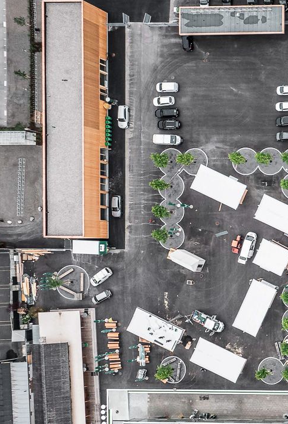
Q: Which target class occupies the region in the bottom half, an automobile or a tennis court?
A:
automobile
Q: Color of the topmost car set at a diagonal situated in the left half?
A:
white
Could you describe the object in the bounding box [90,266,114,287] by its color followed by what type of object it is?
white car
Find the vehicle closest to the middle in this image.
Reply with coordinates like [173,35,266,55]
[110,193,123,217]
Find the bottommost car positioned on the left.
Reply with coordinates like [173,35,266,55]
[92,288,115,306]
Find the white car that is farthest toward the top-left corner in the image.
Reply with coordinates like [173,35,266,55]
[116,105,130,129]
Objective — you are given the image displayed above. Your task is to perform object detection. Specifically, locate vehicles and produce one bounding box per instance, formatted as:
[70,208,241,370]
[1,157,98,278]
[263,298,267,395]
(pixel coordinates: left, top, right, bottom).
[276,130,288,142]
[245,0,257,6]
[155,107,180,118]
[155,81,180,93]
[90,266,114,287]
[158,118,183,130]
[191,309,226,333]
[116,105,130,129]
[235,231,258,264]
[110,193,123,217]
[275,116,288,127]
[151,133,182,146]
[153,94,177,106]
[220,0,233,6]
[229,234,241,254]
[277,0,288,13]
[275,100,288,112]
[92,288,115,306]
[182,35,195,56]
[197,0,210,6]
[276,85,288,96]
